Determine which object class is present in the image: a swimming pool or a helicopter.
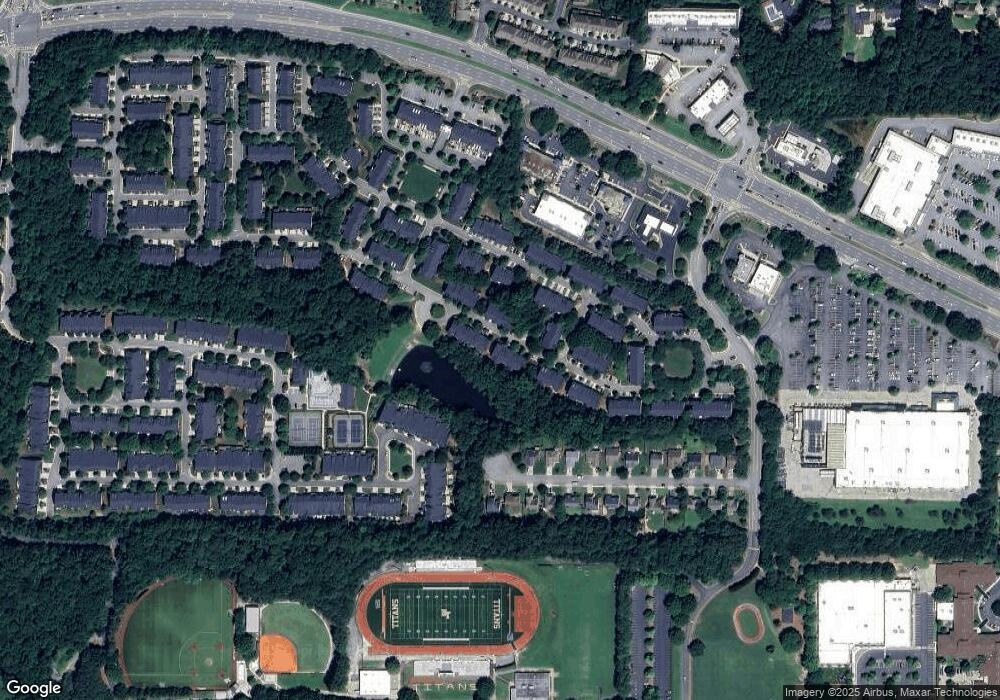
swimming pool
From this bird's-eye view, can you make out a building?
Yes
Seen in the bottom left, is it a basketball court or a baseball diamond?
baseball diamond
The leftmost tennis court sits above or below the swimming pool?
below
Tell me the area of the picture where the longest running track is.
bottom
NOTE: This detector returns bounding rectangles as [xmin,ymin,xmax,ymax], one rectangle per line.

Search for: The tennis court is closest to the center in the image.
[335,414,365,447]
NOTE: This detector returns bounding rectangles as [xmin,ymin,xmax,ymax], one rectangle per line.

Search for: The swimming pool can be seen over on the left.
[309,370,340,408]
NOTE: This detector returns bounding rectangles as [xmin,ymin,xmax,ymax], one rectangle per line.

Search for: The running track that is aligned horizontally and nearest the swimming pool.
[357,571,540,655]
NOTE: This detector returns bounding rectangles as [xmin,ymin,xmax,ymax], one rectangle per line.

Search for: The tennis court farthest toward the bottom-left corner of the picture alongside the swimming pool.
[289,412,322,446]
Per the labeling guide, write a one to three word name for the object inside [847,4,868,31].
house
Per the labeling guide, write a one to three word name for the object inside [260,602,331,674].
baseball field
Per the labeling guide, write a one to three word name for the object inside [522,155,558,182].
building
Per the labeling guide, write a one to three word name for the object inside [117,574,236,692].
baseball field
